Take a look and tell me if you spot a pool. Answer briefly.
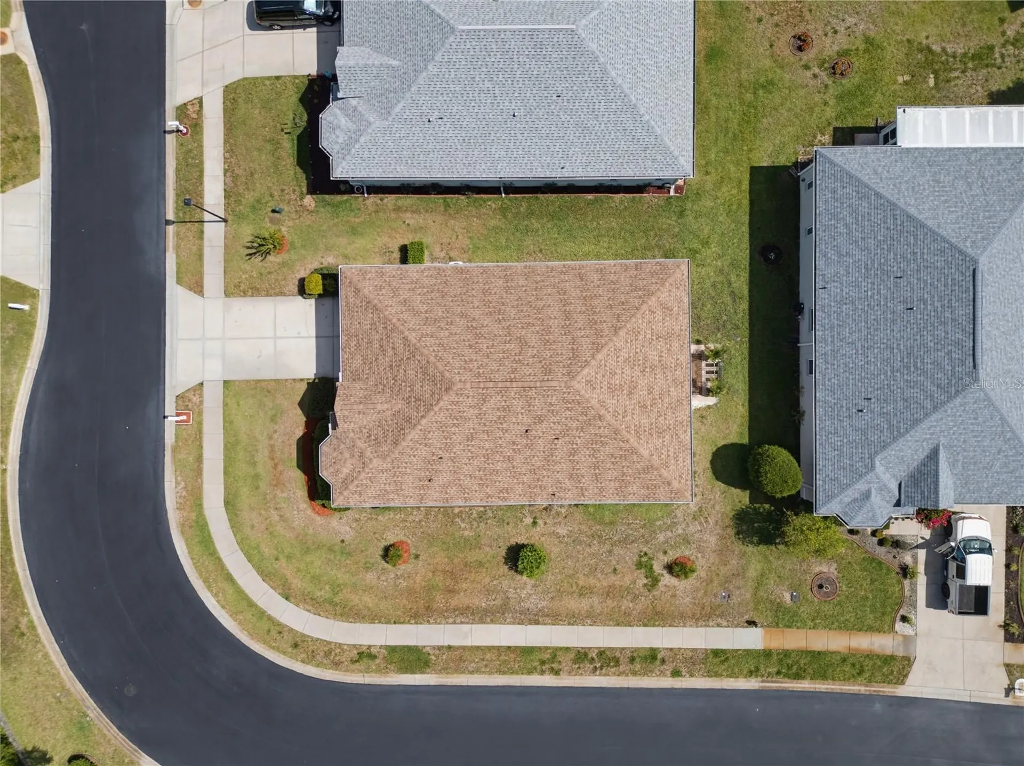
No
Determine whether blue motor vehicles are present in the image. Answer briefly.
No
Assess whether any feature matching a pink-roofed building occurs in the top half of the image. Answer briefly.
No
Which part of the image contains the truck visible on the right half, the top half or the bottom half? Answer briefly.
bottom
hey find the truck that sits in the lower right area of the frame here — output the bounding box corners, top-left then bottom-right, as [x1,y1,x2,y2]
[930,513,994,616]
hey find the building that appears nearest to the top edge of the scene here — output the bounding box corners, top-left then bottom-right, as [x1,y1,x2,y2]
[319,0,695,193]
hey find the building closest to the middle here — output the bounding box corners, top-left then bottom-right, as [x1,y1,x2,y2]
[319,260,693,508]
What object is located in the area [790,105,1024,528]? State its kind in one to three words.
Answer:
house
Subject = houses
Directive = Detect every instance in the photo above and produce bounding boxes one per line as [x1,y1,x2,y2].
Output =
[319,260,693,508]
[790,105,1024,528]
[319,0,695,193]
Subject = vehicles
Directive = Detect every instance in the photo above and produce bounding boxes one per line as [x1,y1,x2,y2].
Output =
[253,0,342,25]
[930,513,994,616]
